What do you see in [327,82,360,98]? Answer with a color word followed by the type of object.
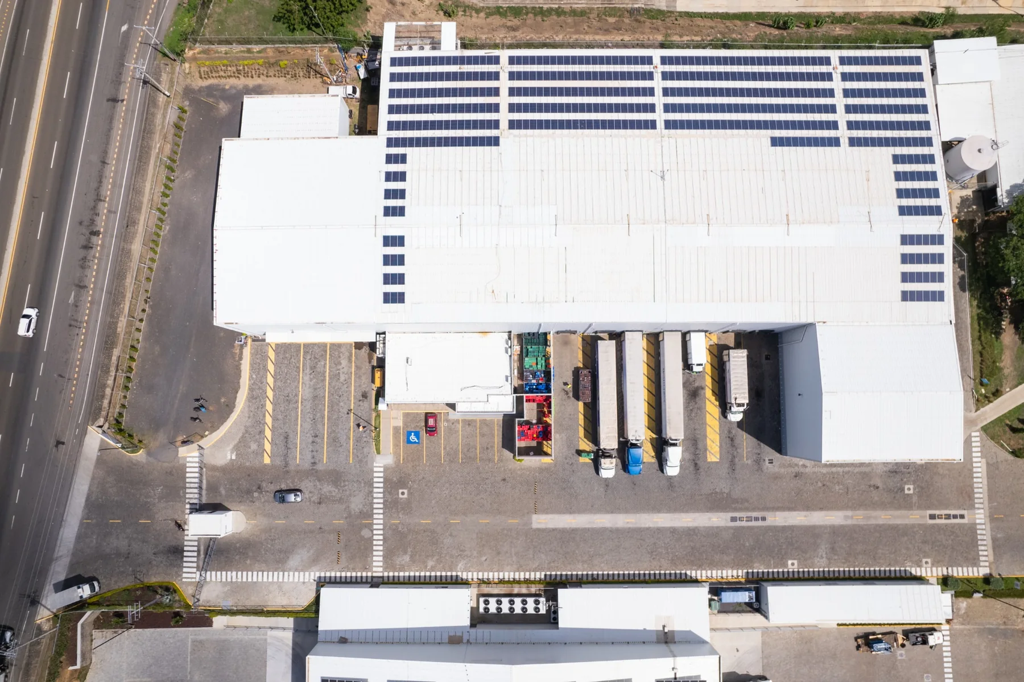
white vehicle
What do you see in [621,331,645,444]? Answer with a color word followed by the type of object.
white trailer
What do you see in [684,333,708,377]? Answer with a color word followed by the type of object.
white truck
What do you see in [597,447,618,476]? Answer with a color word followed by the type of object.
white truck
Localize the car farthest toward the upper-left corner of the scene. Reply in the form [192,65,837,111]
[14,307,38,336]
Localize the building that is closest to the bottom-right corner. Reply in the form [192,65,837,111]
[753,577,952,623]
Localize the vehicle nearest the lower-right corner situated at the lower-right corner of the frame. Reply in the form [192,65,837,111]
[910,632,946,653]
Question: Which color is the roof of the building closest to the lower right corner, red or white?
white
